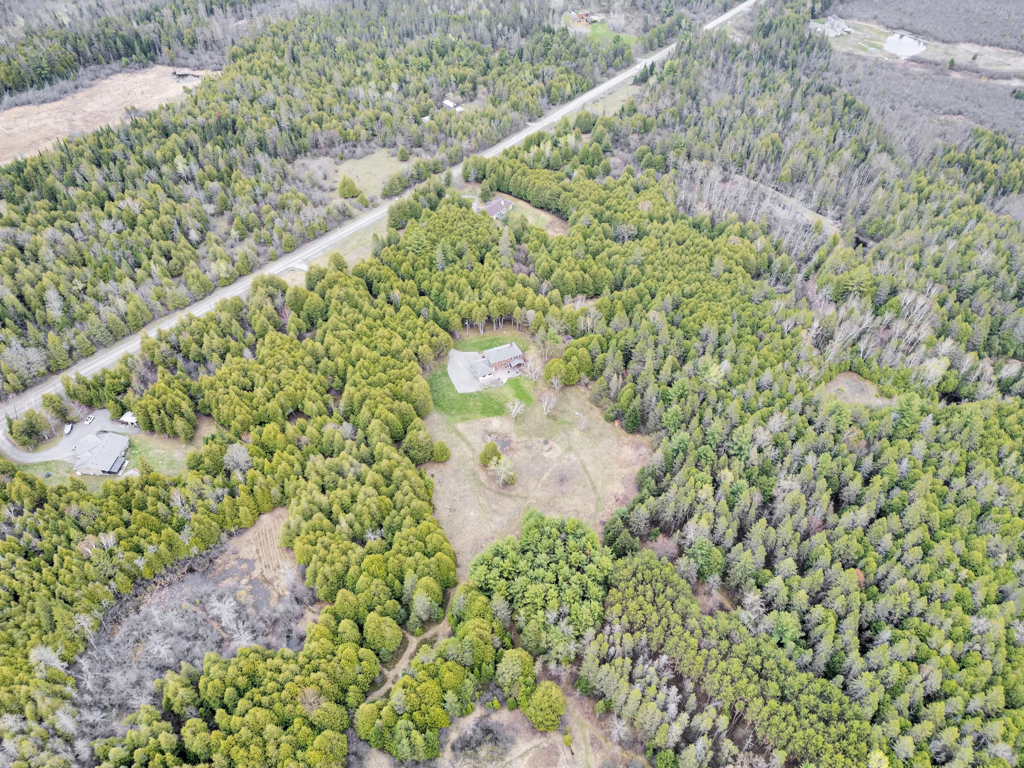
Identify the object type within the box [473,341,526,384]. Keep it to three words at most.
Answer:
house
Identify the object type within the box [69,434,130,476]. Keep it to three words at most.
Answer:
house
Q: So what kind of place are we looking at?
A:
forest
